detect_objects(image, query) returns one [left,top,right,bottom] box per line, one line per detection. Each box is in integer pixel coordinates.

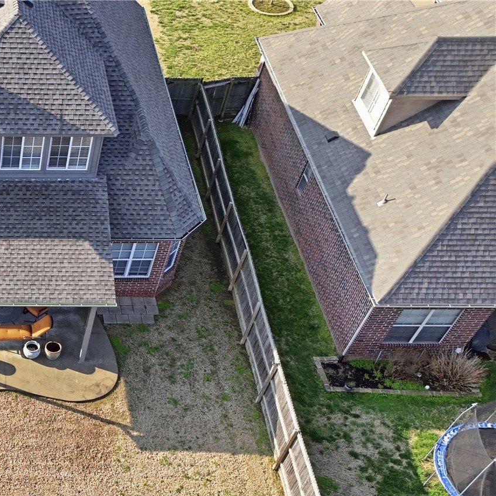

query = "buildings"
[0,0,211,361]
[241,0,496,364]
